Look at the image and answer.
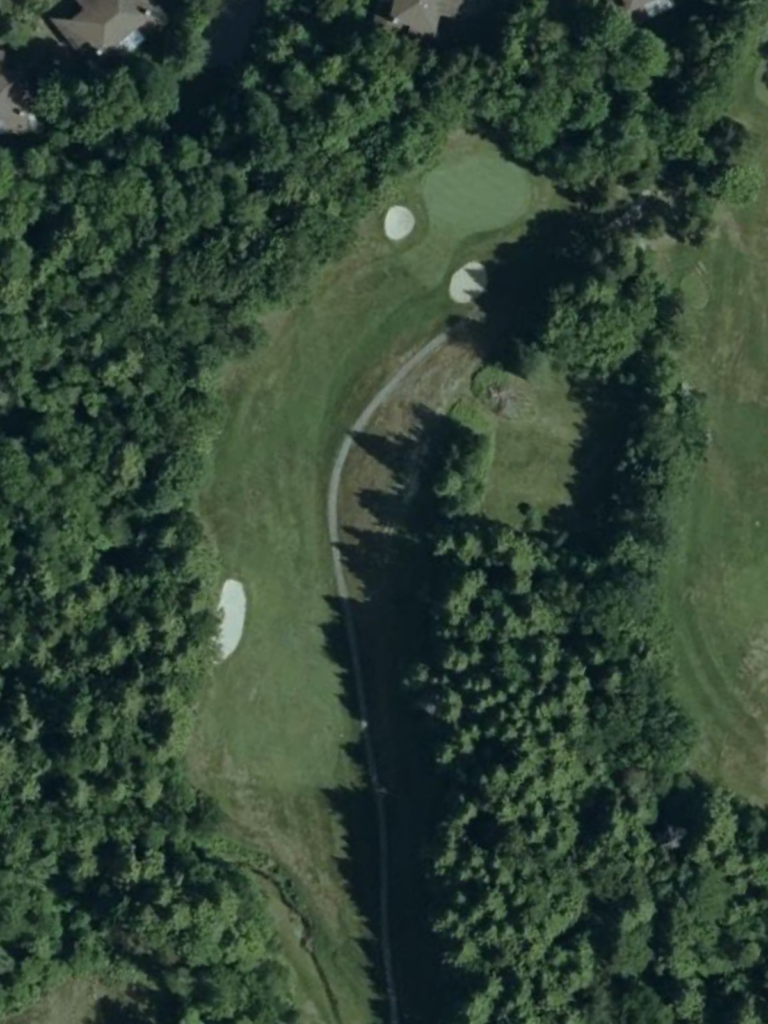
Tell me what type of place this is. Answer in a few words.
golf course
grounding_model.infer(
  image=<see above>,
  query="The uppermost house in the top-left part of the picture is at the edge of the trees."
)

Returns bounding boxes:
[52,0,155,57]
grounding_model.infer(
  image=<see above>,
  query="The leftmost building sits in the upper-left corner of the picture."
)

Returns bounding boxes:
[0,48,39,133]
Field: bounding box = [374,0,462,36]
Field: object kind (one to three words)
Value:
house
